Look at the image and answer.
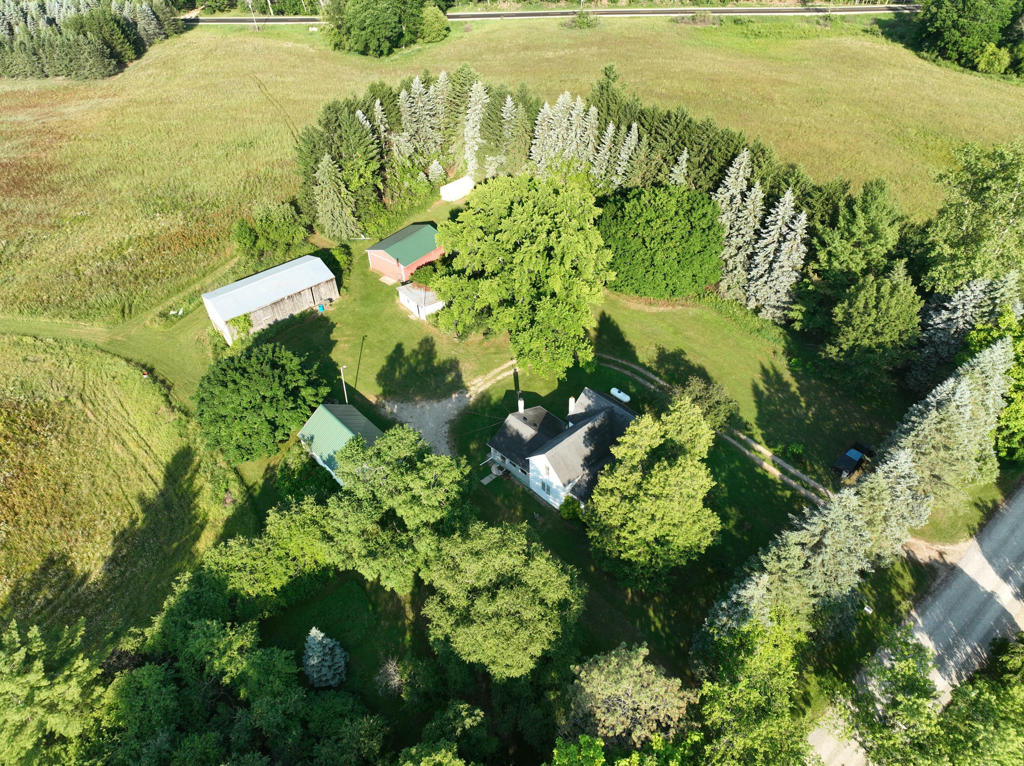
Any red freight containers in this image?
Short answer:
No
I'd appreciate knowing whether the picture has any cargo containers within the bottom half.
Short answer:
No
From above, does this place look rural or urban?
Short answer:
rural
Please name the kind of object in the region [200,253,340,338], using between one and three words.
barn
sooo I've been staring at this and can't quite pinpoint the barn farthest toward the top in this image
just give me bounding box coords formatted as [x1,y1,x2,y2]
[366,223,448,282]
